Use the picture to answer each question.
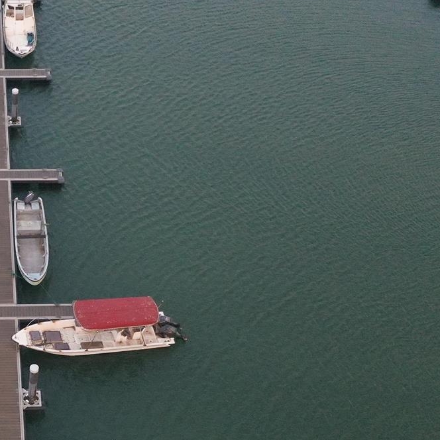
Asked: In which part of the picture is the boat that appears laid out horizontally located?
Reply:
bottom left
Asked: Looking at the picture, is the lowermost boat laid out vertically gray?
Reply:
Yes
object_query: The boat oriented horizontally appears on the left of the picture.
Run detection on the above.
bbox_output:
[11,291,193,355]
